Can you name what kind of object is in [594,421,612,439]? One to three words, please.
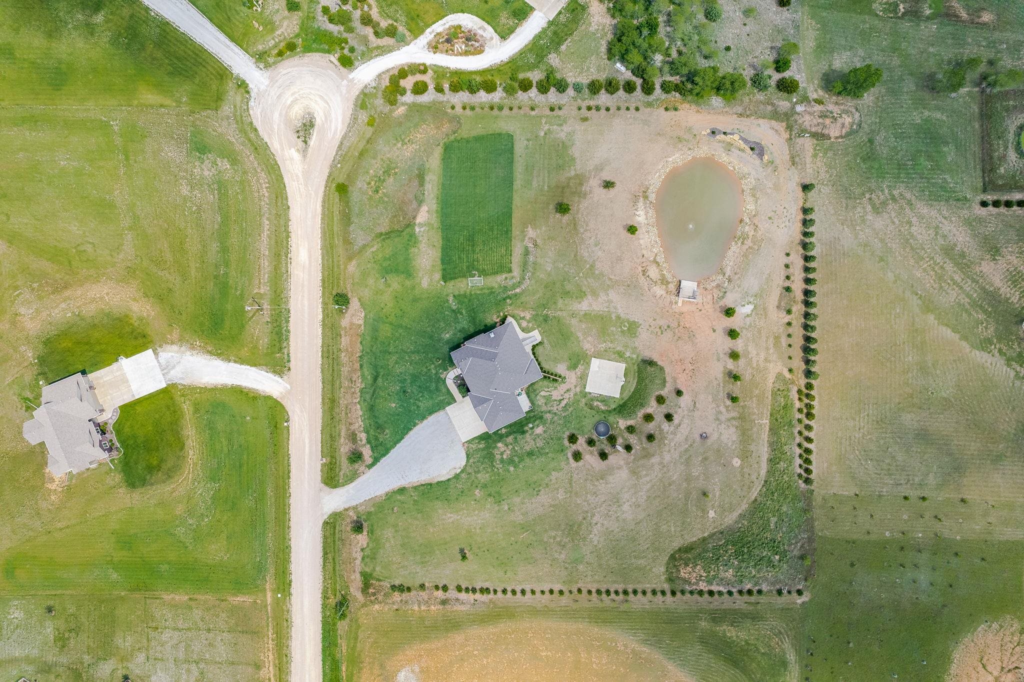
trampoline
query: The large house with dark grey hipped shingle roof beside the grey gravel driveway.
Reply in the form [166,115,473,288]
[450,320,545,435]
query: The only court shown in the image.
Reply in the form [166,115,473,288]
[586,358,626,397]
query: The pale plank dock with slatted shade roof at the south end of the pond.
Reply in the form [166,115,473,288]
[678,280,701,301]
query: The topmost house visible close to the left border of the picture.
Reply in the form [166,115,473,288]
[18,372,116,481]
